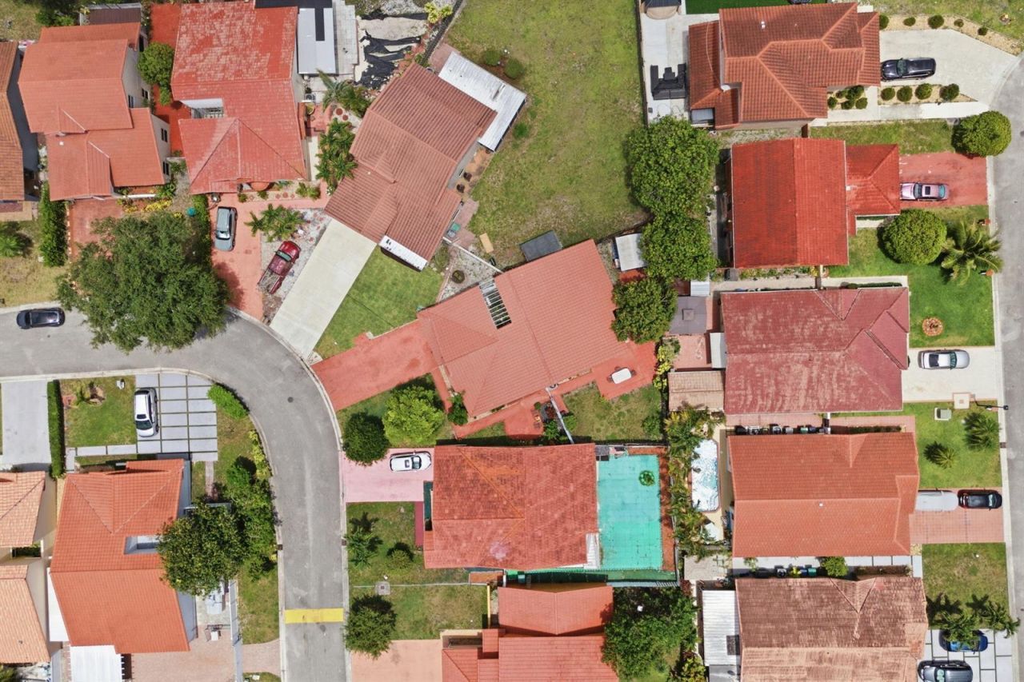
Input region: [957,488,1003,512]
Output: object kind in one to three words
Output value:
car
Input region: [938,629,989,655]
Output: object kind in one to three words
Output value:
car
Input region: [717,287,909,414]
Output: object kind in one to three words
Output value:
house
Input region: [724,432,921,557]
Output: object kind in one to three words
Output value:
house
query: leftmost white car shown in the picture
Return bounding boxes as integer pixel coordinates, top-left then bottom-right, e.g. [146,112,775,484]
[132,387,160,438]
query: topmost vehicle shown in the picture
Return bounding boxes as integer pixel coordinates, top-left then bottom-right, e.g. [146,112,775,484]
[880,55,936,83]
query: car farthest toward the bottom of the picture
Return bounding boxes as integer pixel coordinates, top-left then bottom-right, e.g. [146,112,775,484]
[917,658,974,682]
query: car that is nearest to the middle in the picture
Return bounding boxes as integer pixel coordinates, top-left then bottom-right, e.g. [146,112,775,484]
[388,450,433,474]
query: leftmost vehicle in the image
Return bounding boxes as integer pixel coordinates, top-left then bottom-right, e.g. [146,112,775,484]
[16,306,67,330]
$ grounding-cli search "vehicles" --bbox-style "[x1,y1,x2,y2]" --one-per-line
[957,488,1003,512]
[132,387,160,438]
[880,55,936,83]
[388,450,433,474]
[917,348,970,371]
[257,239,301,296]
[900,179,948,202]
[16,306,67,330]
[917,658,974,682]
[938,629,989,655]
